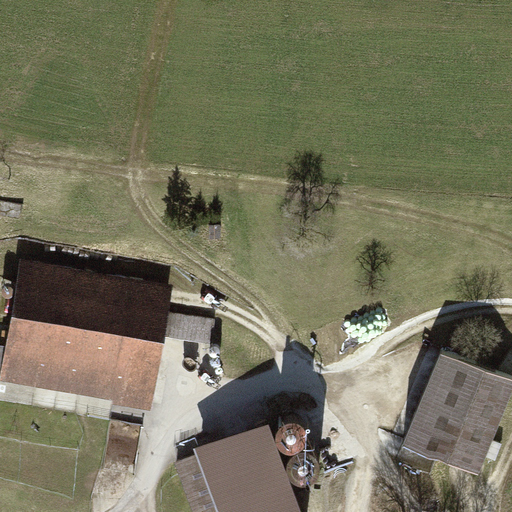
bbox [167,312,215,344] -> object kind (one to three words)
shed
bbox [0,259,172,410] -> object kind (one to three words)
barn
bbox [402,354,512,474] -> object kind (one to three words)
barn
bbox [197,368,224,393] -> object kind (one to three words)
work vehicle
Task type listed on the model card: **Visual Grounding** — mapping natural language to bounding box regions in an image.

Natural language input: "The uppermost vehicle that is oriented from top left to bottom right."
[200,290,230,313]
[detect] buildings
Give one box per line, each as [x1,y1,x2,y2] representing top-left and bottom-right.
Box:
[0,259,172,410]
[0,200,21,218]
[402,354,512,474]
[175,426,300,512]
[209,224,220,240]
[167,312,215,344]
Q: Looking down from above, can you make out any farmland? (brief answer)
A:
Yes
